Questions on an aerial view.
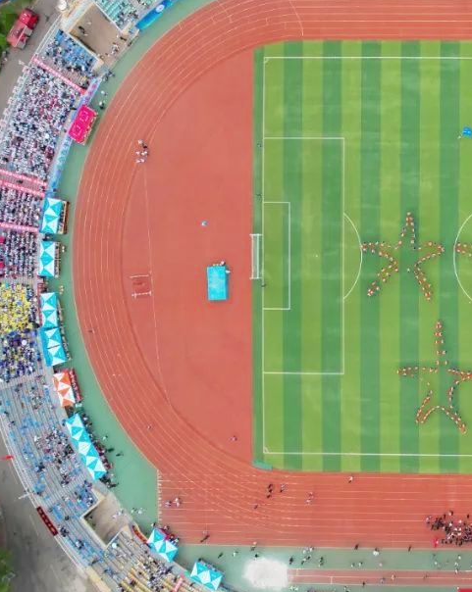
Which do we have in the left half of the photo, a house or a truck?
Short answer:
truck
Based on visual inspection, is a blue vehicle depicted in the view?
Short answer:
No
